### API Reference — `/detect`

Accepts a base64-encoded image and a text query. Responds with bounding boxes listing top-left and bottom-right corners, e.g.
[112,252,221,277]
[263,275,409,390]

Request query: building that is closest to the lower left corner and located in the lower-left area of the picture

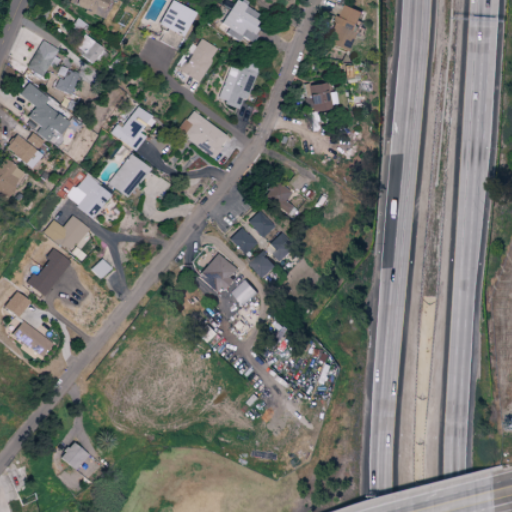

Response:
[62,444,90,470]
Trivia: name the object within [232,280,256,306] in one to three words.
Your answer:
building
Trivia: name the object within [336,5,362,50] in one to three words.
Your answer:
house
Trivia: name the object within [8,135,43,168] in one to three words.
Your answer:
house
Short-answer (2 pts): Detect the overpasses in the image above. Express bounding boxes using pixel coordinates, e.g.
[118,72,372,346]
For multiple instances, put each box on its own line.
[334,466,506,512]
